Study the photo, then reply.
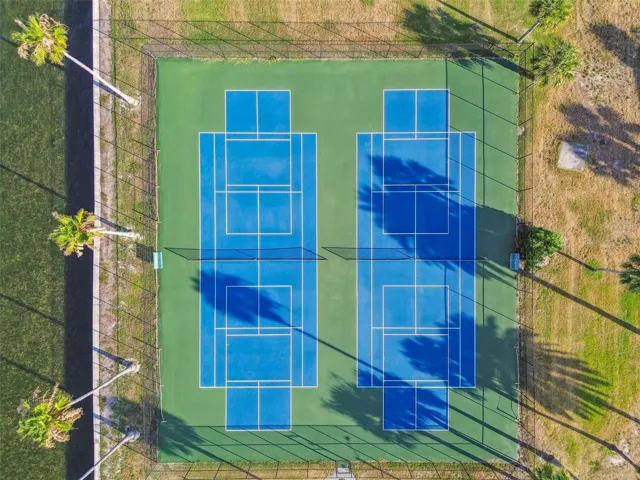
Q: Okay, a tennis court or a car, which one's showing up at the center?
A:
tennis court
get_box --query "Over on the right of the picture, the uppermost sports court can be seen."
[383,89,449,234]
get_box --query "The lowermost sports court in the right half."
[383,286,449,431]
